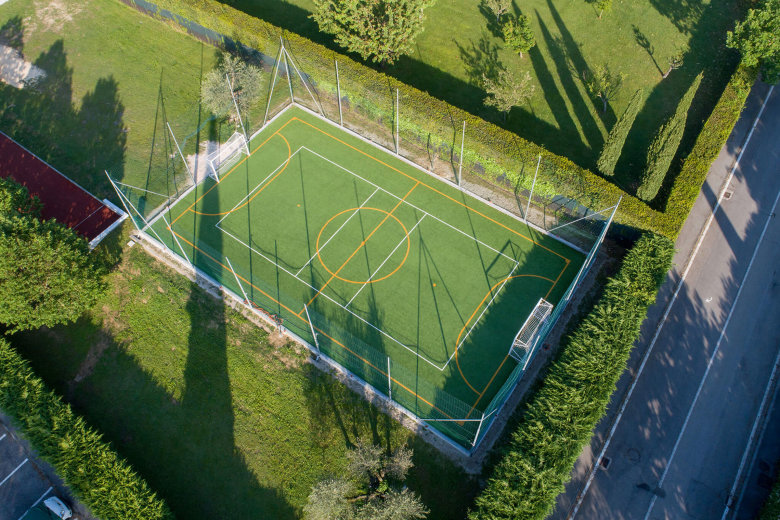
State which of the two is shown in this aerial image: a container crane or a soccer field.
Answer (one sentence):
I can see a soccer field in this picture.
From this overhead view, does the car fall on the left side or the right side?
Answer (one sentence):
The car is on the left side of the image.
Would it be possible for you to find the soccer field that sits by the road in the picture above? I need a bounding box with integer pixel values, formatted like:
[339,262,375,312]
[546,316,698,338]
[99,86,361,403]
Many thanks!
[136,99,599,462]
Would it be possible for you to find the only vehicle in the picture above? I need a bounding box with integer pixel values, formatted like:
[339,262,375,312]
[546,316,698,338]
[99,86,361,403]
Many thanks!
[20,499,71,520]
